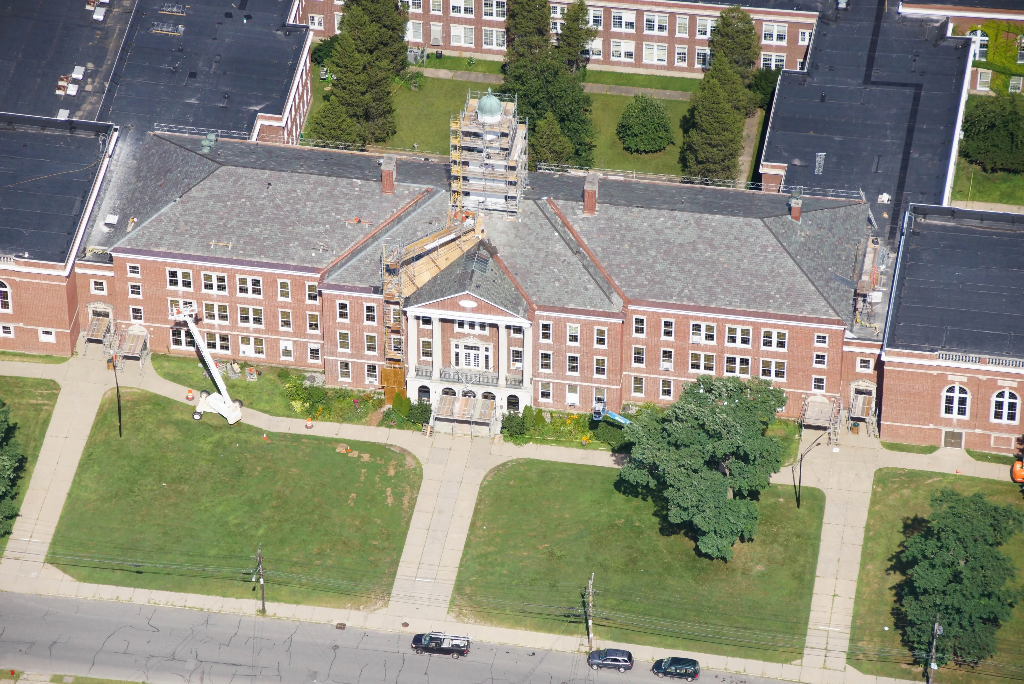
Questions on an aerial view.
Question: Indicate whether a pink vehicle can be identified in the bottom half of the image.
No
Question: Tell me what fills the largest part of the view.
buildings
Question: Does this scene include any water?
No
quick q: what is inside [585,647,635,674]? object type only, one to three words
car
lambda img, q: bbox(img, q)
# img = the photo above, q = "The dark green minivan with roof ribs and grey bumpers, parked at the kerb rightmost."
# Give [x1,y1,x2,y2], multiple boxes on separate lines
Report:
[649,655,702,683]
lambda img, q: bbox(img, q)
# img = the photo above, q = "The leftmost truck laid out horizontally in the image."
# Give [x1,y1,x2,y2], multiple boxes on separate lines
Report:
[411,629,474,660]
